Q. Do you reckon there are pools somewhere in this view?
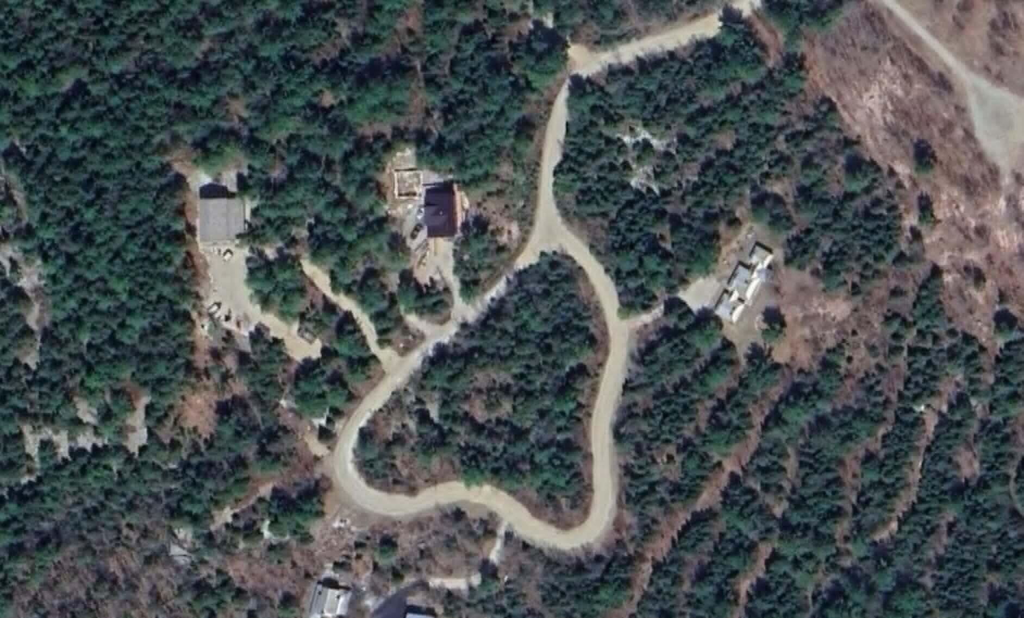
No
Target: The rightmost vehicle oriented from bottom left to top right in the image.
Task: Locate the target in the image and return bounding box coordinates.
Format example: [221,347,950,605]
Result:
[408,223,423,239]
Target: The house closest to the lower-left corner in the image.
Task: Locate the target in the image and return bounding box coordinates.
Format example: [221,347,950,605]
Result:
[311,583,352,618]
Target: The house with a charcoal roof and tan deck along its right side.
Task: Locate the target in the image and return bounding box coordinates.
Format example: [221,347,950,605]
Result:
[426,187,465,237]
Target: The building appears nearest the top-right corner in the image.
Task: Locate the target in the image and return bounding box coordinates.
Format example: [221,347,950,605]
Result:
[714,245,775,322]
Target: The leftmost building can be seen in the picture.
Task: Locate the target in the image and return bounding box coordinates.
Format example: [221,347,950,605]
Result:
[199,198,245,239]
